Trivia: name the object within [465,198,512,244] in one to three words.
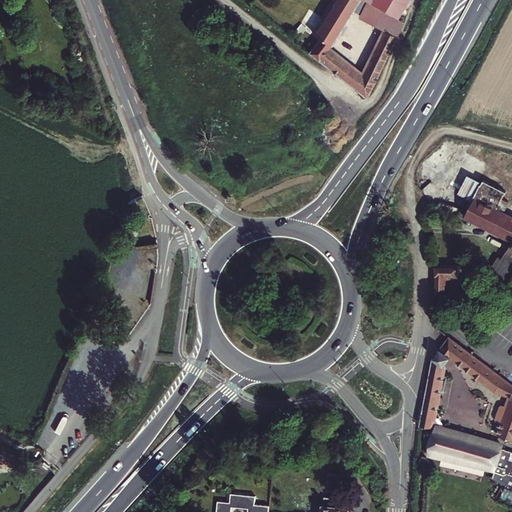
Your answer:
house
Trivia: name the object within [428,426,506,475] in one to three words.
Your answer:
building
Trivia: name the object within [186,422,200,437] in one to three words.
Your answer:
vehicle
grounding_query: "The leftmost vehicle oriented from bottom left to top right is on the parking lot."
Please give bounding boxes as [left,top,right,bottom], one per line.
[52,414,70,437]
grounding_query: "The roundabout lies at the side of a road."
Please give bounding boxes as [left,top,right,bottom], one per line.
[196,217,361,383]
